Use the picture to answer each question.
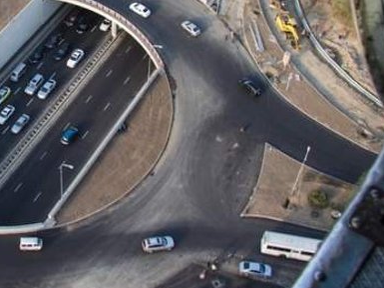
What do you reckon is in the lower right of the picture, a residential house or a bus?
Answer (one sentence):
Visible in the lower right of the picture is a bus.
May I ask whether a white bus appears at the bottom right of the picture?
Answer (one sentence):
Yes, you'll find a white bus at the bottom right of the picture.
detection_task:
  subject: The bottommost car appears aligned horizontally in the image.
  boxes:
[238,261,271,279]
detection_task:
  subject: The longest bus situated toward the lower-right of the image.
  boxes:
[257,227,319,259]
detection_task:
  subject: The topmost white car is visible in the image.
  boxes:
[128,5,151,19]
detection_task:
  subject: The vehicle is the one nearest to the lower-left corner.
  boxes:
[19,235,43,252]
